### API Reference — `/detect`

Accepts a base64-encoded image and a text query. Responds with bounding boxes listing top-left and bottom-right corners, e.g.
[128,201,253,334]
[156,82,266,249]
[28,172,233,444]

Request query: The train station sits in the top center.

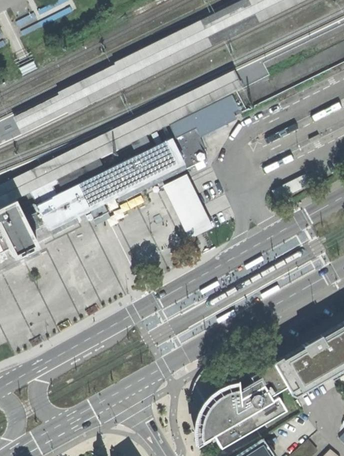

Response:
[0,0,344,196]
